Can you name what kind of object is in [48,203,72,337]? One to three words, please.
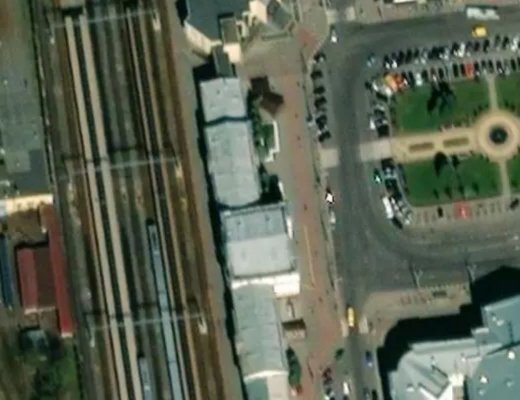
shed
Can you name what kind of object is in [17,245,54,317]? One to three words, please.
shed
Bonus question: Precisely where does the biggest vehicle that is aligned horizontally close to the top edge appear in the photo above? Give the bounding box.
[464,9,498,23]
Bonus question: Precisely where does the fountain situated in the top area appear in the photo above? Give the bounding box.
[488,124,508,145]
